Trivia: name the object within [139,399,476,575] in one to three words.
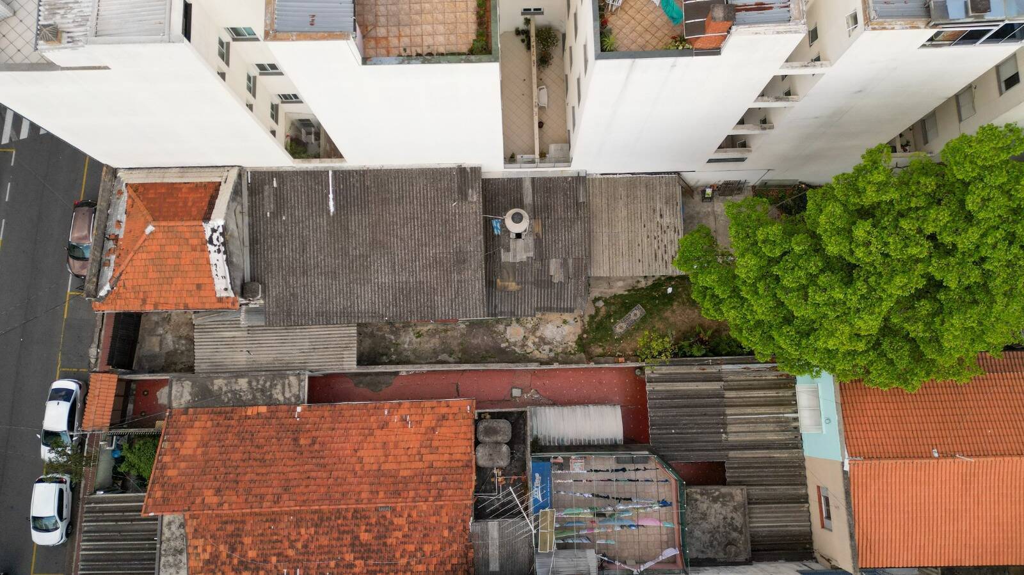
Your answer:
house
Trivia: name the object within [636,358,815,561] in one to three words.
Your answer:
shed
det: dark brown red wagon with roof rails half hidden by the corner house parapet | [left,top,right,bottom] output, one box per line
[61,202,97,277]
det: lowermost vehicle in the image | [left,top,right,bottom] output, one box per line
[26,473,79,547]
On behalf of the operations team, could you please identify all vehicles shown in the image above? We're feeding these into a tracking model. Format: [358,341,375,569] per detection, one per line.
[26,473,79,547]
[36,378,92,463]
[61,202,97,277]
